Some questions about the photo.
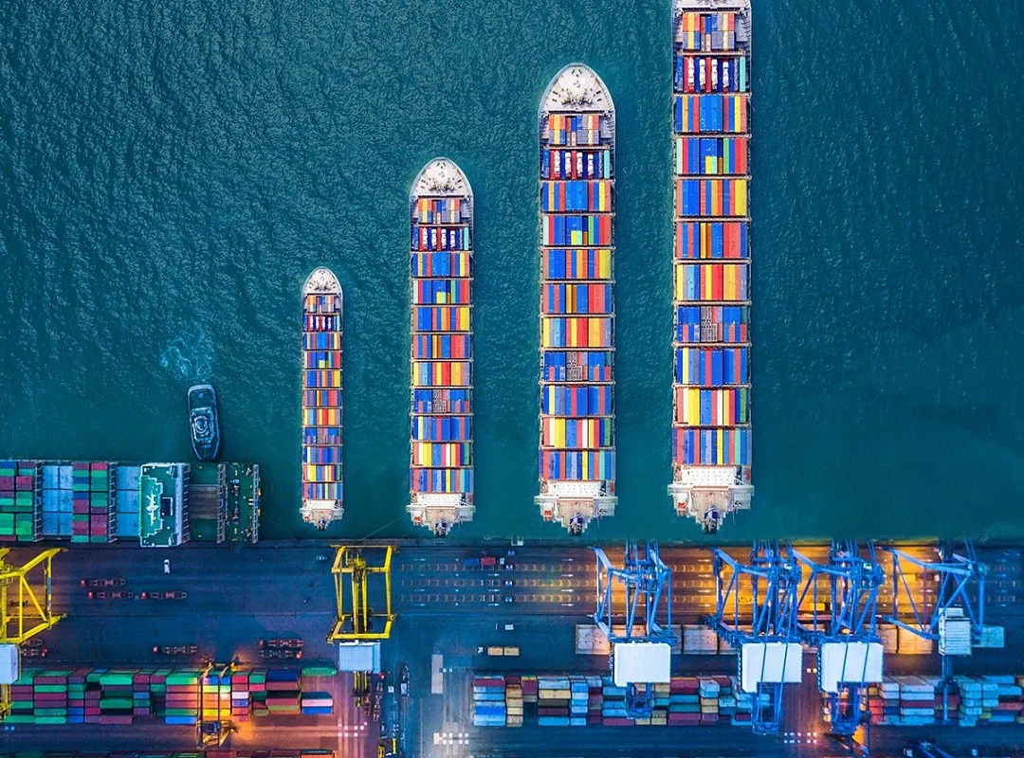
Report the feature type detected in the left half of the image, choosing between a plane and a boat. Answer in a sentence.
It is a boat that can be seen in the left half of the image.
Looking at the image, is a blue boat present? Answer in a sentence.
Yes, the picture does show a blue boat.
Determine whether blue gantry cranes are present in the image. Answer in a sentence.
Yes, this view includes a blue gantry crane.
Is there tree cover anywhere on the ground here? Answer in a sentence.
No, tree cover can't be seen anywhere here.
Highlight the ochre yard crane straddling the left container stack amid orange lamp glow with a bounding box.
[198,665,249,756]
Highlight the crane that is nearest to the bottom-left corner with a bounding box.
[0,545,70,732]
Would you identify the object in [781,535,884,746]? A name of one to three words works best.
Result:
container crane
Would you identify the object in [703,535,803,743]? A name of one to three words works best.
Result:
container crane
